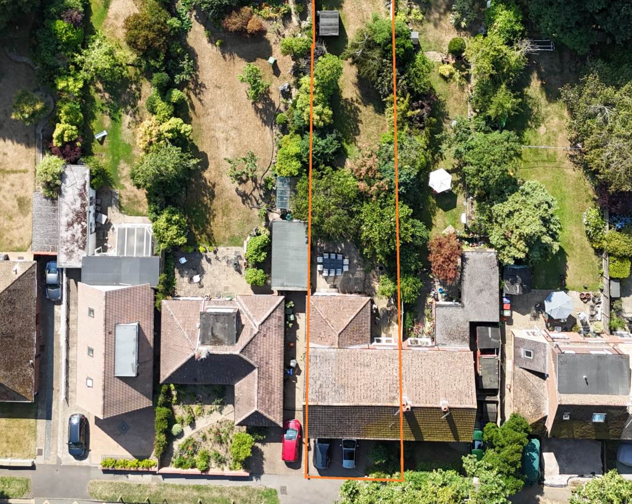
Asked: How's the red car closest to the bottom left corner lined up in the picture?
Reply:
up and down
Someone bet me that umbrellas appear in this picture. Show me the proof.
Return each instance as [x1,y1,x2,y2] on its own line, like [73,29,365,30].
[429,167,452,193]
[543,289,575,322]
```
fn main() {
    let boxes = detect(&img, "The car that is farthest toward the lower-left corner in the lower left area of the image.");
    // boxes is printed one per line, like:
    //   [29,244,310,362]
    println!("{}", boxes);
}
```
[66,413,90,456]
